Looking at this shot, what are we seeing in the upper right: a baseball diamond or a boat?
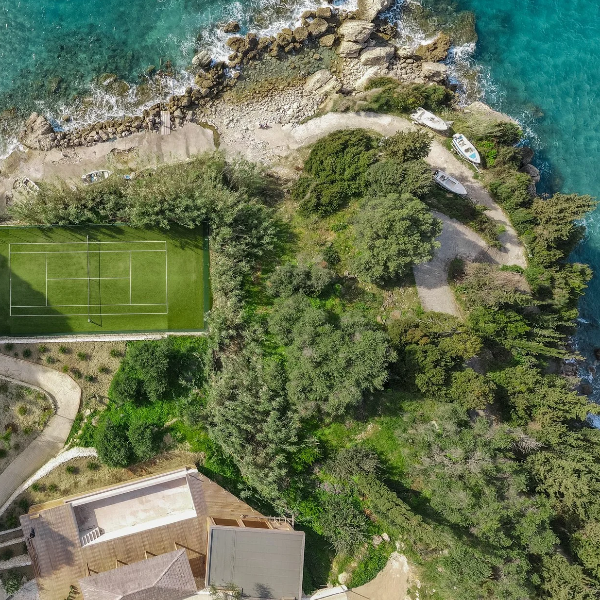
boat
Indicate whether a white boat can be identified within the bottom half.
No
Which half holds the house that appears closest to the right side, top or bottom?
bottom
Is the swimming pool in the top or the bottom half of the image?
bottom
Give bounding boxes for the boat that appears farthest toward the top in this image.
[410,107,453,130]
